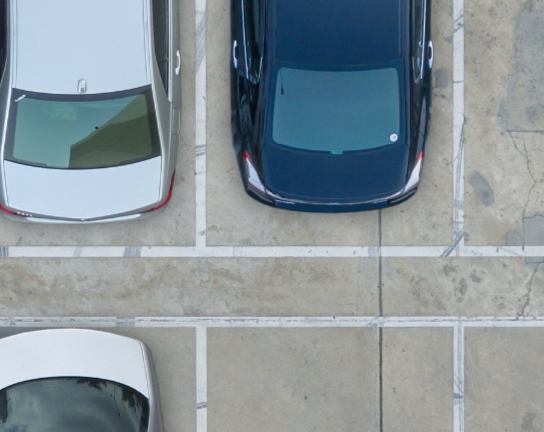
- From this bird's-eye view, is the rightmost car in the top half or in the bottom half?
top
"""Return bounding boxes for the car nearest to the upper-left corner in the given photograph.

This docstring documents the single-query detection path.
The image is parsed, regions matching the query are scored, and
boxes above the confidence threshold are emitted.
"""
[0,0,177,224]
